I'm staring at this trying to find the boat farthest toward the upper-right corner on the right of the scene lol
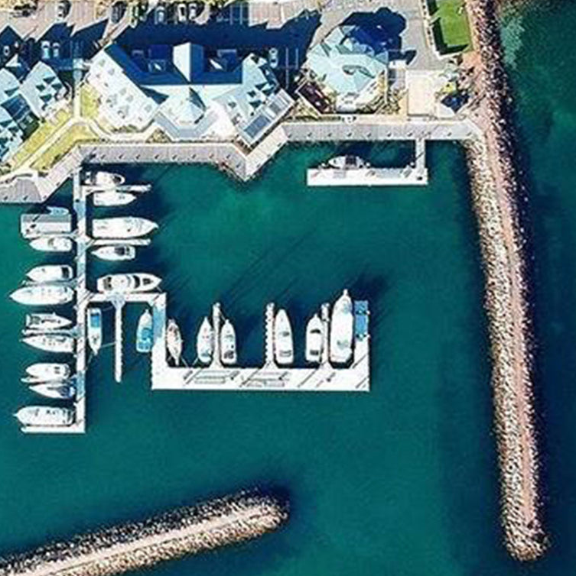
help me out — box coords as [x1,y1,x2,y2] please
[327,155,368,168]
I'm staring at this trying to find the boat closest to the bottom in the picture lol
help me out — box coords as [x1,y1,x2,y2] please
[13,406,76,425]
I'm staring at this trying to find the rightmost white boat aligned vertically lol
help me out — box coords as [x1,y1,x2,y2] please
[331,289,355,367]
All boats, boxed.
[93,274,161,293]
[26,265,75,282]
[22,214,72,238]
[306,313,324,366]
[30,238,75,252]
[88,216,159,238]
[197,317,214,366]
[327,155,368,168]
[45,207,68,214]
[331,289,355,367]
[13,406,76,425]
[276,308,295,367]
[26,363,73,380]
[26,312,72,330]
[221,319,238,367]
[88,307,103,355]
[20,336,74,353]
[92,246,139,259]
[91,191,136,207]
[29,385,75,399]
[167,319,185,362]
[11,284,76,305]
[136,310,153,355]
